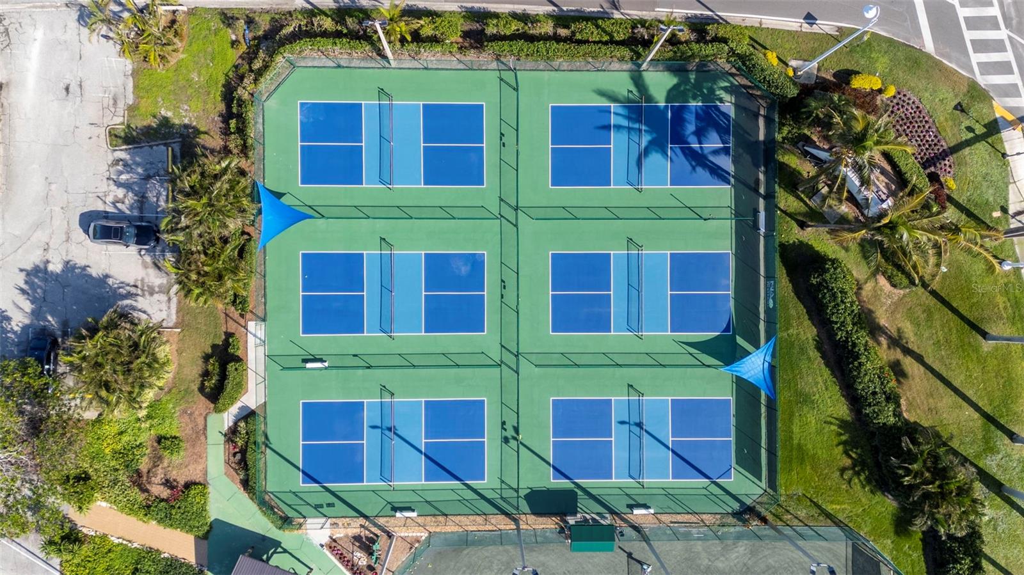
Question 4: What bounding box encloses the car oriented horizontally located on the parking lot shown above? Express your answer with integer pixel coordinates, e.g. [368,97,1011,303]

[82,218,157,249]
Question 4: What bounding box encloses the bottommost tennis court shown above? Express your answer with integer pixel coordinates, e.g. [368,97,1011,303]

[392,529,895,575]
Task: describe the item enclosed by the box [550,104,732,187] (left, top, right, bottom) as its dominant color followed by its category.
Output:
blue sports court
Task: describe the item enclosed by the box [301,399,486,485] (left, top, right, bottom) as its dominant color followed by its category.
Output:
blue sports court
